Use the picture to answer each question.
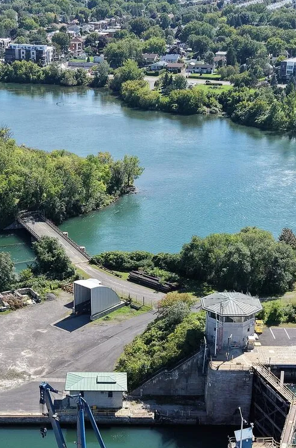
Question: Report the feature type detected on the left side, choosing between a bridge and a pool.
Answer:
bridge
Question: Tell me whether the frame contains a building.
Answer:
Yes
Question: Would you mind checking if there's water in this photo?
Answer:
Yes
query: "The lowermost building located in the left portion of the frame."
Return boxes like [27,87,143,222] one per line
[62,373,128,409]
